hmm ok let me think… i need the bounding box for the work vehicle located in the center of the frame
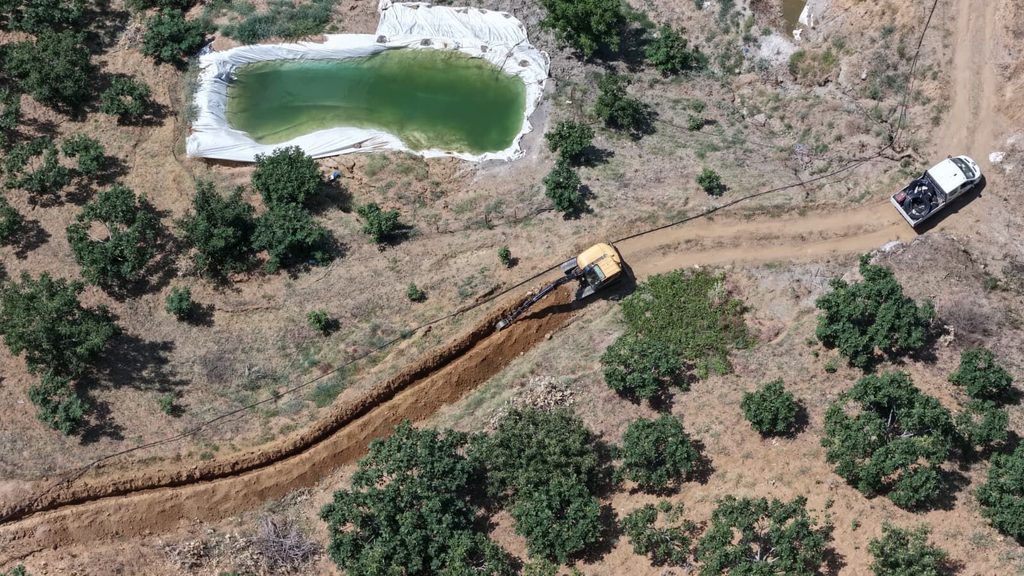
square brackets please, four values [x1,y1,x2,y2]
[497,242,633,329]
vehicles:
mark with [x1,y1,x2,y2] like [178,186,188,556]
[886,163,986,232]
[497,242,633,329]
